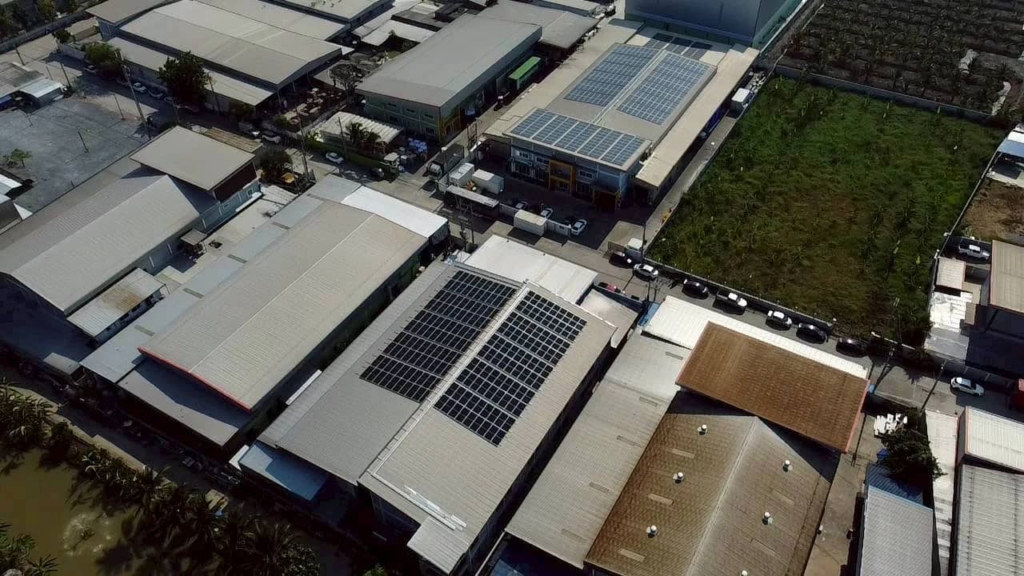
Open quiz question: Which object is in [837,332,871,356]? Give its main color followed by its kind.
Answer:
black car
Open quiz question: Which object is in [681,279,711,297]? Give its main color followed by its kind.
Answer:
black car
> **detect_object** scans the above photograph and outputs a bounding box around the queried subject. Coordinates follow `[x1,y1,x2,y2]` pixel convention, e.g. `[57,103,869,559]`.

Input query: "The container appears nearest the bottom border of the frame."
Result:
[509,206,551,237]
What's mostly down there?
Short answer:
buildings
